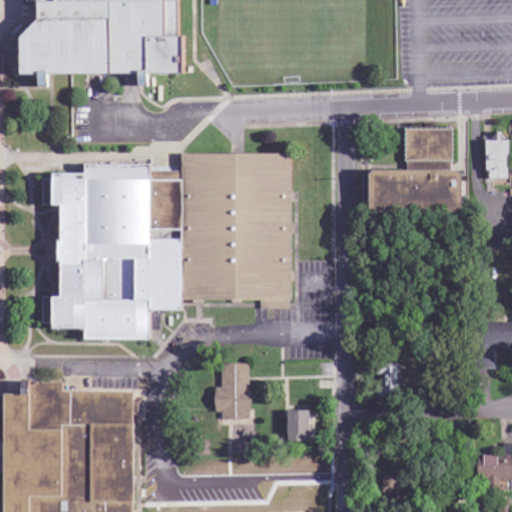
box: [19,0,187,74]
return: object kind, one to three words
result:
building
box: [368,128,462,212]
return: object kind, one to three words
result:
building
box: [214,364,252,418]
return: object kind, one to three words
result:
house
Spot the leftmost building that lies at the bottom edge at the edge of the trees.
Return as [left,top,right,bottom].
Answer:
[4,380,134,512]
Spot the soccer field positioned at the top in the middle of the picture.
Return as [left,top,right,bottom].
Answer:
[219,0,366,84]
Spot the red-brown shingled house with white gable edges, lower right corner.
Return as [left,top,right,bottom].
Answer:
[478,444,512,490]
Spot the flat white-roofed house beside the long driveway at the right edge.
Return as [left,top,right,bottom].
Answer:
[484,130,510,179]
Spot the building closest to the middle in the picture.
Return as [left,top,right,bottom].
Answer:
[183,153,294,306]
